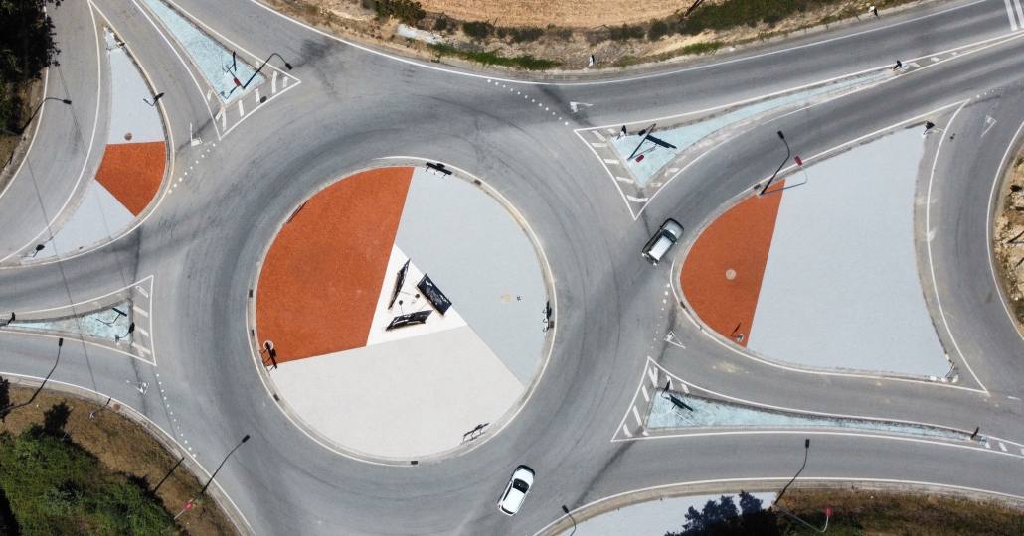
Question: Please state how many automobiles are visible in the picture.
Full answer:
Looking from above, you can make out 2 automobiles.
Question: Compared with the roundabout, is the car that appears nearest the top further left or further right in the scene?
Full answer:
Compared with the roundabout, the car that appears nearest the top is located further to the right.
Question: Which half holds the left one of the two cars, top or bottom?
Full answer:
The left one of the two cars is in the bottom half of the image.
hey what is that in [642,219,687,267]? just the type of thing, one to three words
car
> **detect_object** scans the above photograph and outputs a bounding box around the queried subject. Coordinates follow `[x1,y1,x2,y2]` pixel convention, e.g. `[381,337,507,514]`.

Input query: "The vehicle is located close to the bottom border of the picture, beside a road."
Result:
[498,469,534,521]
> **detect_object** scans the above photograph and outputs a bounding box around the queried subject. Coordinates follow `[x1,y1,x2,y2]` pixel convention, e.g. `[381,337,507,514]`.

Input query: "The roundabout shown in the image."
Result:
[157,65,646,536]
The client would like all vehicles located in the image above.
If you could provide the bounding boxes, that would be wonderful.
[642,219,687,267]
[498,469,534,521]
